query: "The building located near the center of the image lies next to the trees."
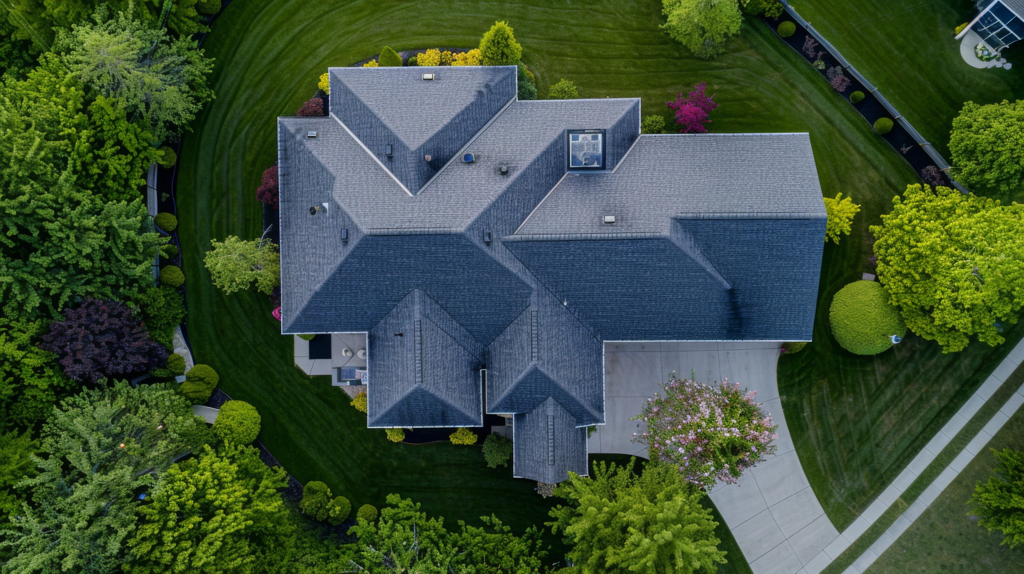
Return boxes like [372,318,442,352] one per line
[277,64,828,483]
